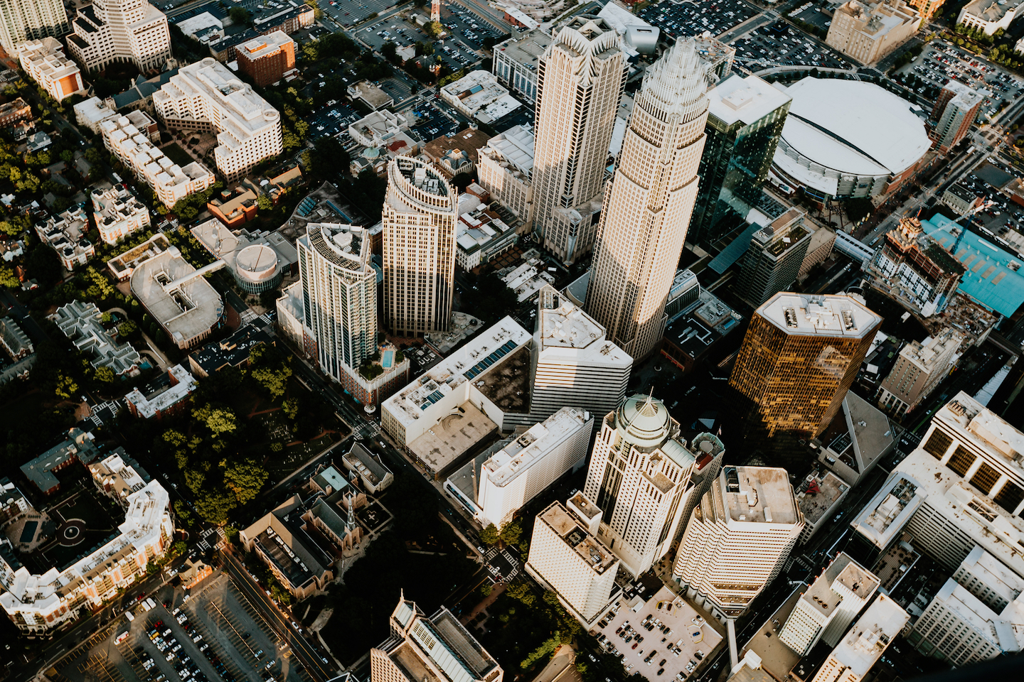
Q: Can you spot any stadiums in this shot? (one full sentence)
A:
Yes, a stadium can be made out from above.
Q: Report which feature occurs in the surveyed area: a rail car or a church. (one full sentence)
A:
There is a church in the scene.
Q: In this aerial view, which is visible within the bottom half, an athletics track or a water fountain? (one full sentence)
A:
What appears within the bottom half is a water fountain.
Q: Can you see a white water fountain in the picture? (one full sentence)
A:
No, no white water fountain is visible in the scene.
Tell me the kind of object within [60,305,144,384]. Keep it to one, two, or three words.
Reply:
house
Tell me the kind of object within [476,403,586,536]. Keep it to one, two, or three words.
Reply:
building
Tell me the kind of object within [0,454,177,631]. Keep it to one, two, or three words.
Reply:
building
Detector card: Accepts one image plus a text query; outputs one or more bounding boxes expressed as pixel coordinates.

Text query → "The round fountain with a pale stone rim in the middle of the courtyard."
[53,518,88,547]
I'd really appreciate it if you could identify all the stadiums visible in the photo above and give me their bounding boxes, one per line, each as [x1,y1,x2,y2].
[766,76,932,206]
